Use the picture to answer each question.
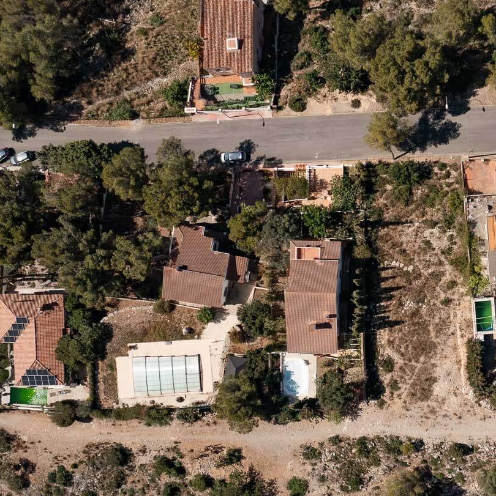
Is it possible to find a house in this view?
Yes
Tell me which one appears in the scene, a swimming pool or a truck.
swimming pool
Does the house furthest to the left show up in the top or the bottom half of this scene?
bottom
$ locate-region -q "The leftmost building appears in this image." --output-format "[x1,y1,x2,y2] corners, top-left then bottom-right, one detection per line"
[0,293,73,387]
